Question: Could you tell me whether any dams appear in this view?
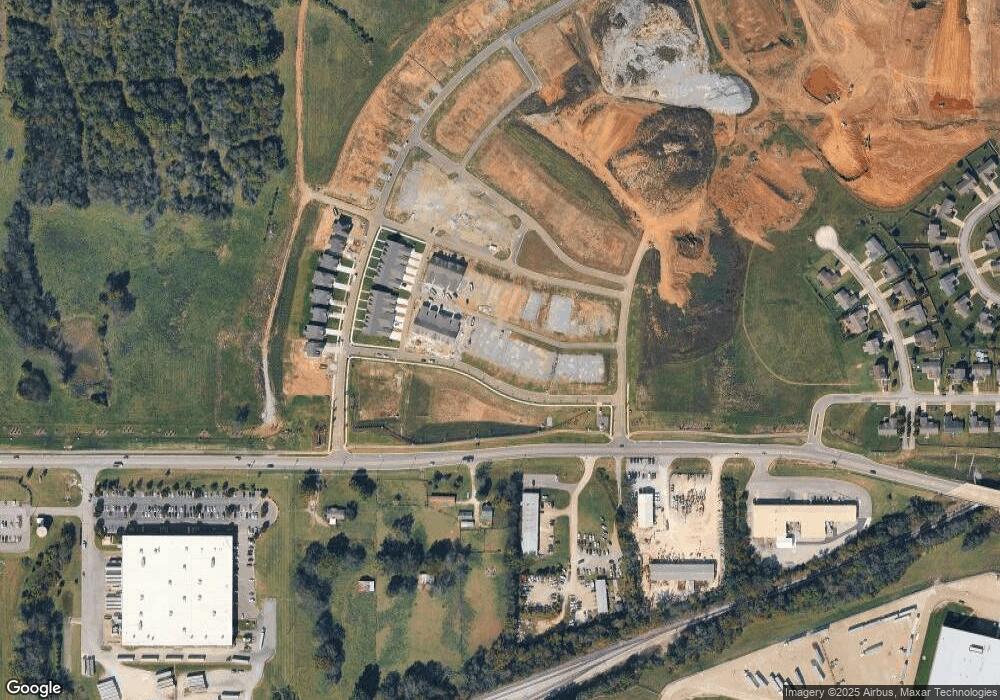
No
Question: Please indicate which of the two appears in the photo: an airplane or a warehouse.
warehouse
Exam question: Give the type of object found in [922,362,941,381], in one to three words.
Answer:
house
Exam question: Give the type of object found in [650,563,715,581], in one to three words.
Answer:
shed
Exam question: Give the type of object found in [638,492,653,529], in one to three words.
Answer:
building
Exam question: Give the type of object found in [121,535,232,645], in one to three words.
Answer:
warehouse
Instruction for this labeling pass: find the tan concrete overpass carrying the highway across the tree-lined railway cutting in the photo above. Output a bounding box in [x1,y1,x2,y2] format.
[947,483,1000,507]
